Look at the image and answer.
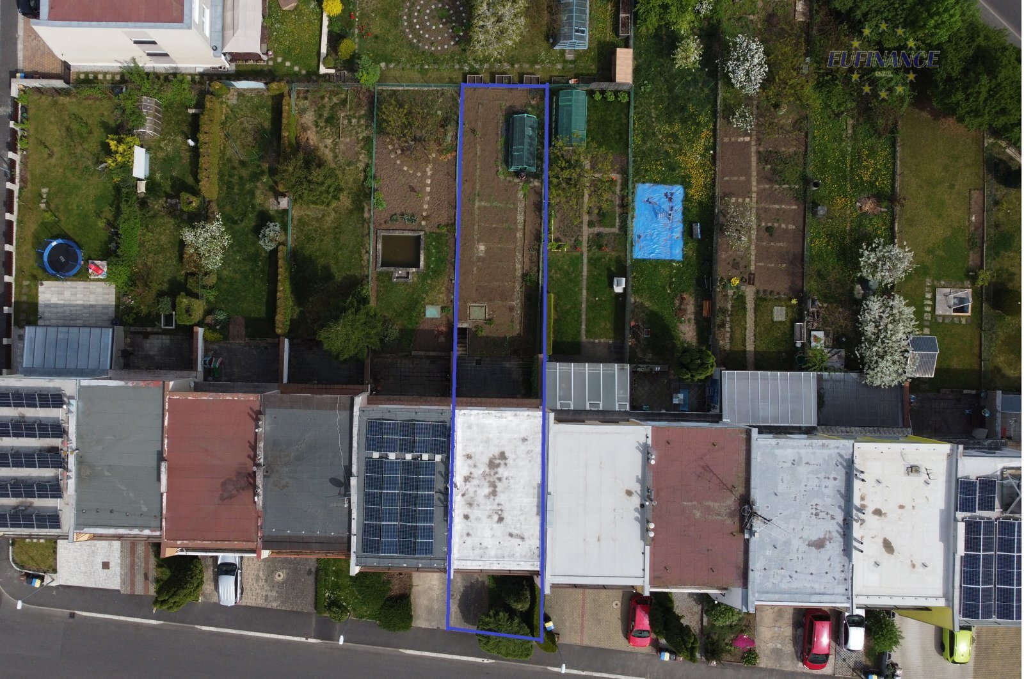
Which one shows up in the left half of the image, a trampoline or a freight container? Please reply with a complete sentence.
You can see a trampoline in the left half of the image.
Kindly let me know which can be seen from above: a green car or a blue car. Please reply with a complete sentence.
Looking from above, you can make out a green car.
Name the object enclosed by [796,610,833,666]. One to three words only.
car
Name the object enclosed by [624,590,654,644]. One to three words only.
car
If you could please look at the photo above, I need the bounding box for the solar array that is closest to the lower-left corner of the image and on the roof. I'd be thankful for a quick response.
[0,390,68,529]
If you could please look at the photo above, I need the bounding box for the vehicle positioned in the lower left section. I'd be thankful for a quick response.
[215,557,244,606]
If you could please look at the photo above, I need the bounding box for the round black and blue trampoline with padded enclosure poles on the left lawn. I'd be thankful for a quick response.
[32,235,87,283]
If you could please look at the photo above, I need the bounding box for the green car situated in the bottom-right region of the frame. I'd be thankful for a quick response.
[933,624,971,664]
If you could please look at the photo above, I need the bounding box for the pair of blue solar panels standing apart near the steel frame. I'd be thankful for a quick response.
[958,478,997,512]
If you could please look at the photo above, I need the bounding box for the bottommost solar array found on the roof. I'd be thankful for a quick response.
[958,519,1024,621]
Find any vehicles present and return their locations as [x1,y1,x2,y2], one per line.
[796,610,833,666]
[215,557,244,606]
[835,610,867,652]
[624,590,654,644]
[933,624,971,664]
[16,0,40,28]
